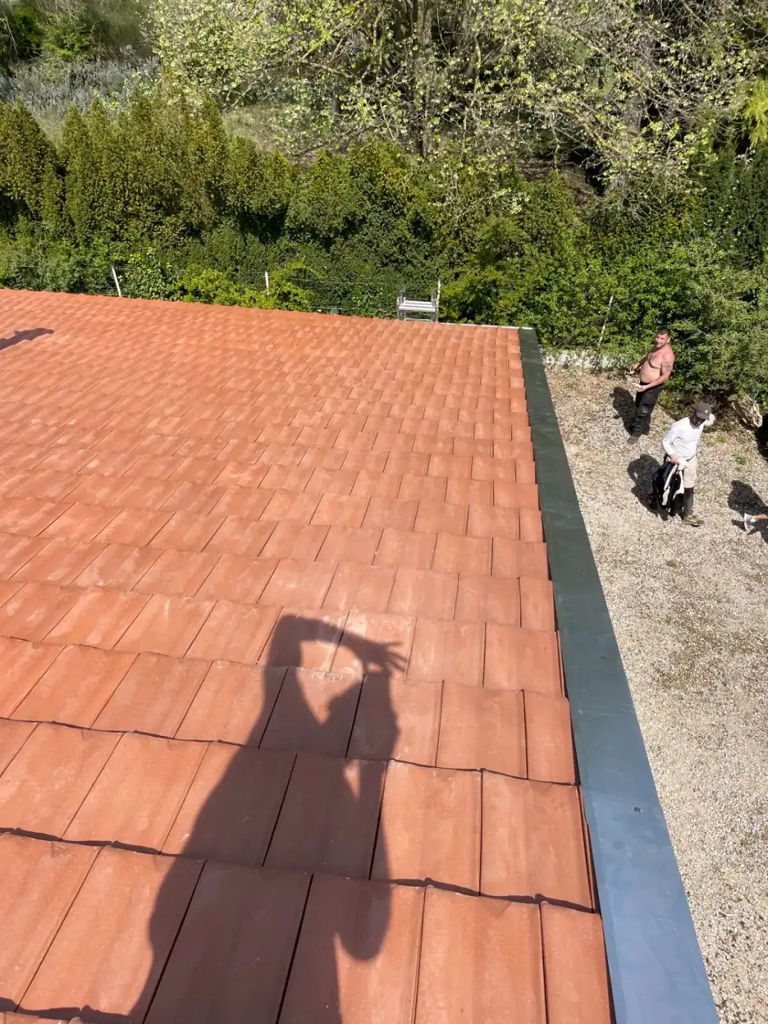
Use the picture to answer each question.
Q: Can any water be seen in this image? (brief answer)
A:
No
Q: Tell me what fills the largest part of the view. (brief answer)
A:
buildings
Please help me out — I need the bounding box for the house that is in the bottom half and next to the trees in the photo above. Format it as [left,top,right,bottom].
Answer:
[0,297,715,1024]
